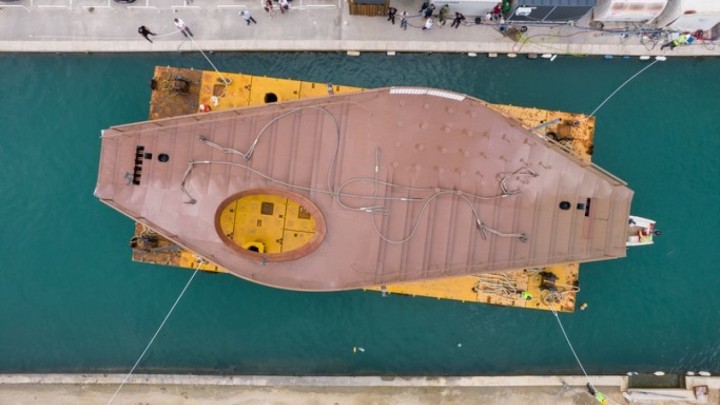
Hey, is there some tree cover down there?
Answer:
No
